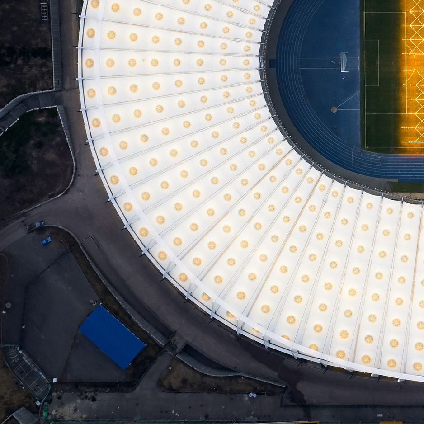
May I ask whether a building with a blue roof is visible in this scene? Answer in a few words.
Yes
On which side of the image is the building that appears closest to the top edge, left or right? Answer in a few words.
left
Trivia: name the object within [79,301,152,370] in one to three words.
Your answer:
building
